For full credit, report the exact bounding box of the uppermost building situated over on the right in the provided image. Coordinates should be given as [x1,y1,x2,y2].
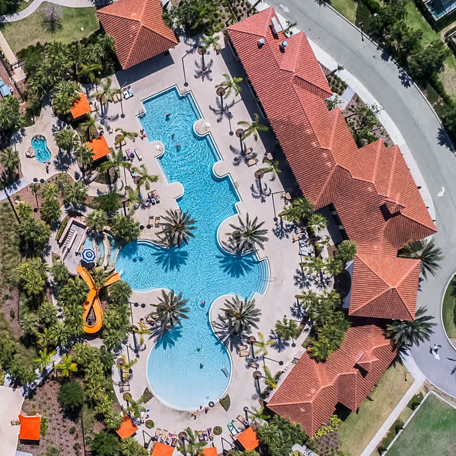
[227,5,438,274]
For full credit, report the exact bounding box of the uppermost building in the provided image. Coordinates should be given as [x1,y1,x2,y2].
[96,0,179,71]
